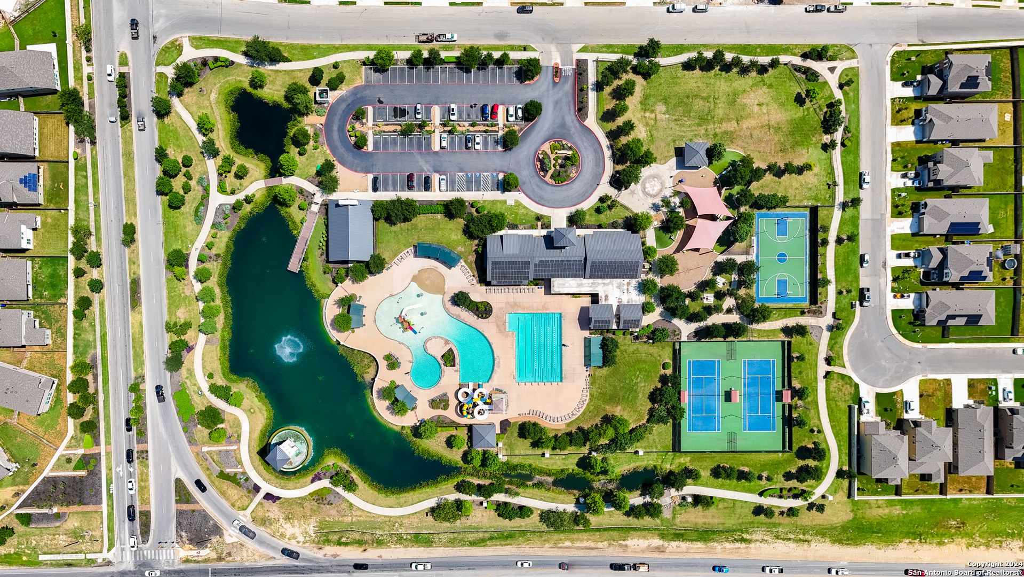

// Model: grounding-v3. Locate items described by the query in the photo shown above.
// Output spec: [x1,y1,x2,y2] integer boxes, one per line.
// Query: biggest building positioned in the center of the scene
[486,228,645,329]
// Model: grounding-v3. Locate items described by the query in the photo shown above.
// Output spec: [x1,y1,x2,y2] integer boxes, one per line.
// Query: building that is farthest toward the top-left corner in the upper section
[0,51,62,94]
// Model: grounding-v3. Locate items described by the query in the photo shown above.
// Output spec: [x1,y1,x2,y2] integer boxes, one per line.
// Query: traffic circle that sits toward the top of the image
[535,139,581,185]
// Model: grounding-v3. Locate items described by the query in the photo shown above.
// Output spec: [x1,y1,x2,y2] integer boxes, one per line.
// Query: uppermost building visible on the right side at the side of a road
[922,55,991,97]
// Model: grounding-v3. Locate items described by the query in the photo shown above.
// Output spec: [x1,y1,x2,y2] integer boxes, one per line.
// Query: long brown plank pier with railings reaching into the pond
[287,209,318,273]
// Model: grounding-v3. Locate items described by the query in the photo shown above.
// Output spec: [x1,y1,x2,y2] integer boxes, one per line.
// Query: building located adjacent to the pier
[328,197,376,262]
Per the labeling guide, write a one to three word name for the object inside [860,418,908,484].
house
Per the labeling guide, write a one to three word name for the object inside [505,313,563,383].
swimming pool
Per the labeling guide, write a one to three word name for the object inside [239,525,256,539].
vehicle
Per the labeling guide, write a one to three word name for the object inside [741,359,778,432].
tennis court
